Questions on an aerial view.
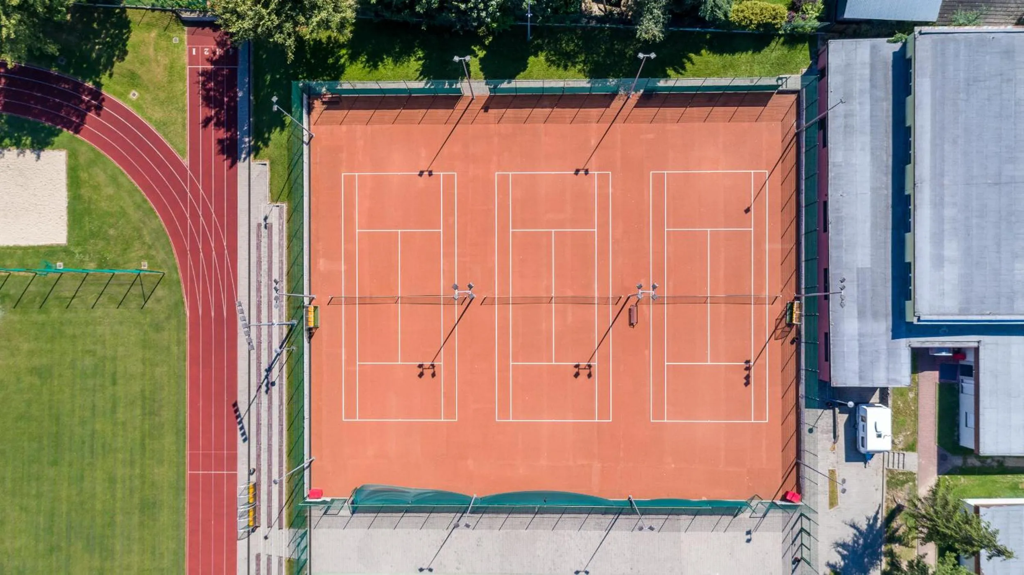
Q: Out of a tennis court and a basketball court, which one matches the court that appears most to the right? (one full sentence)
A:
Looking closely, the court that appears most to the right is a tennis court.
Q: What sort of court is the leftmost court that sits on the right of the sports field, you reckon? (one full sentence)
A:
In the photo, the leftmost court that sits on the right of the sports field shows up as a tennis court.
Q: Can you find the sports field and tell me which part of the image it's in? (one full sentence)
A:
Look in the bottom left portion of the view to spot the sports field.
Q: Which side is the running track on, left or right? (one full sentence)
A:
The running track appears in the left half of the scene.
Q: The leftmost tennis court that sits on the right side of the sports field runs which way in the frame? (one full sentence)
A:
The leftmost tennis court that sits on the right side of the sports field has been laid out from top to bottom relative to the frame.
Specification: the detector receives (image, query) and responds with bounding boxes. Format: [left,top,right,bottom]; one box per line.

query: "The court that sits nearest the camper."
[646,166,772,426]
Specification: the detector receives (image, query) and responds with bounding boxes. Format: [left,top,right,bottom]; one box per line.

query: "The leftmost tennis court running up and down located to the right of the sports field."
[338,169,460,425]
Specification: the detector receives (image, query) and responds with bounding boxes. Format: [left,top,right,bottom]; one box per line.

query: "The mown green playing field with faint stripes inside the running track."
[0,273,186,575]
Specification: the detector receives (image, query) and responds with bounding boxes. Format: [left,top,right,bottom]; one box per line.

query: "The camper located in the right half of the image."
[855,400,891,463]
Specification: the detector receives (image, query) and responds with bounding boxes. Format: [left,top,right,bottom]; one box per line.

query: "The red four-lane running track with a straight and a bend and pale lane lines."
[0,21,238,575]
